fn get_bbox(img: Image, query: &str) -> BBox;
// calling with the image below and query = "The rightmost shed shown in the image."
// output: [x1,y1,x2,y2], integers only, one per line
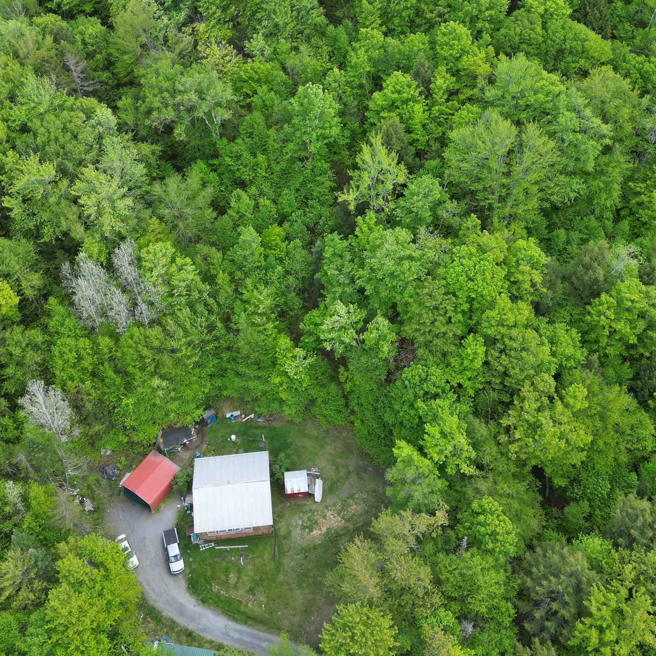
[284,469,309,498]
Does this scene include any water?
No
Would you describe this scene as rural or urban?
rural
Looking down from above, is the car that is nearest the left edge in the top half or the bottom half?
bottom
